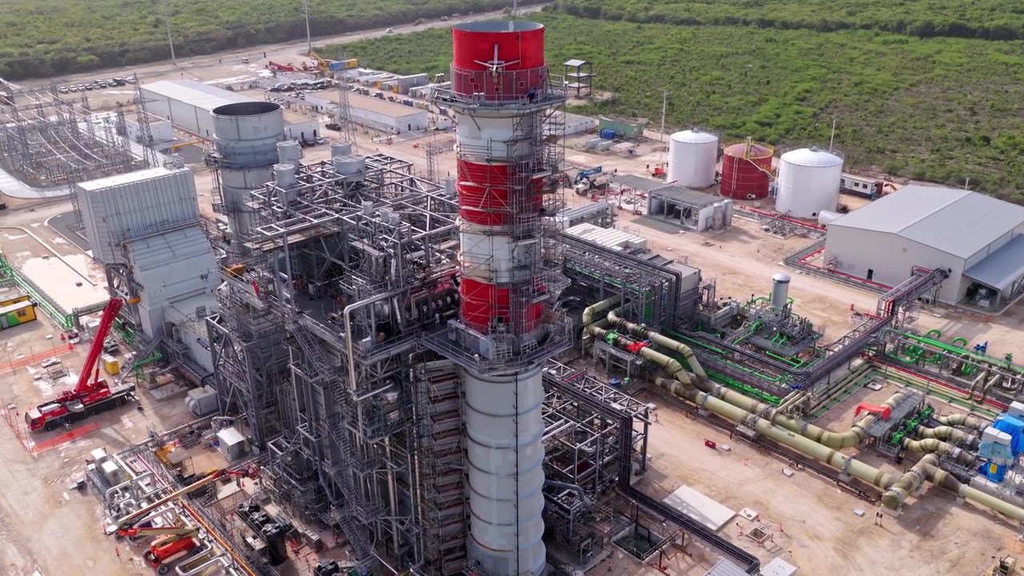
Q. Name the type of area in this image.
industrial area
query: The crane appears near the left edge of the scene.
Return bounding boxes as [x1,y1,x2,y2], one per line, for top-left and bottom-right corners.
[15,285,141,427]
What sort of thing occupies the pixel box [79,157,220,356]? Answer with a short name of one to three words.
house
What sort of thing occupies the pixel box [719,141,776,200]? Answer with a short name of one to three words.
storage tank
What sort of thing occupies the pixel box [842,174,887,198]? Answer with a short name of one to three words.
trailer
